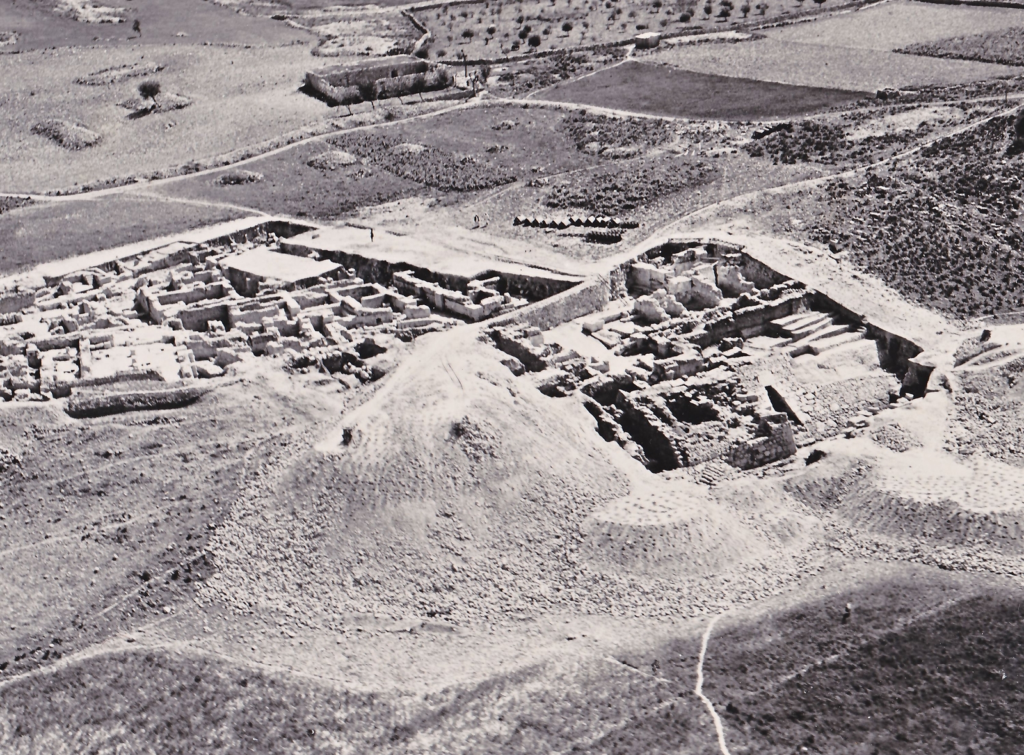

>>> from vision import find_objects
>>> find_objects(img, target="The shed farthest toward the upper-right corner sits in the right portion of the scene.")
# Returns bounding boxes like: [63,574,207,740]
[634,33,660,50]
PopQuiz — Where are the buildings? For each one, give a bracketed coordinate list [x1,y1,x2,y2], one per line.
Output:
[305,57,428,92]
[634,33,660,50]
